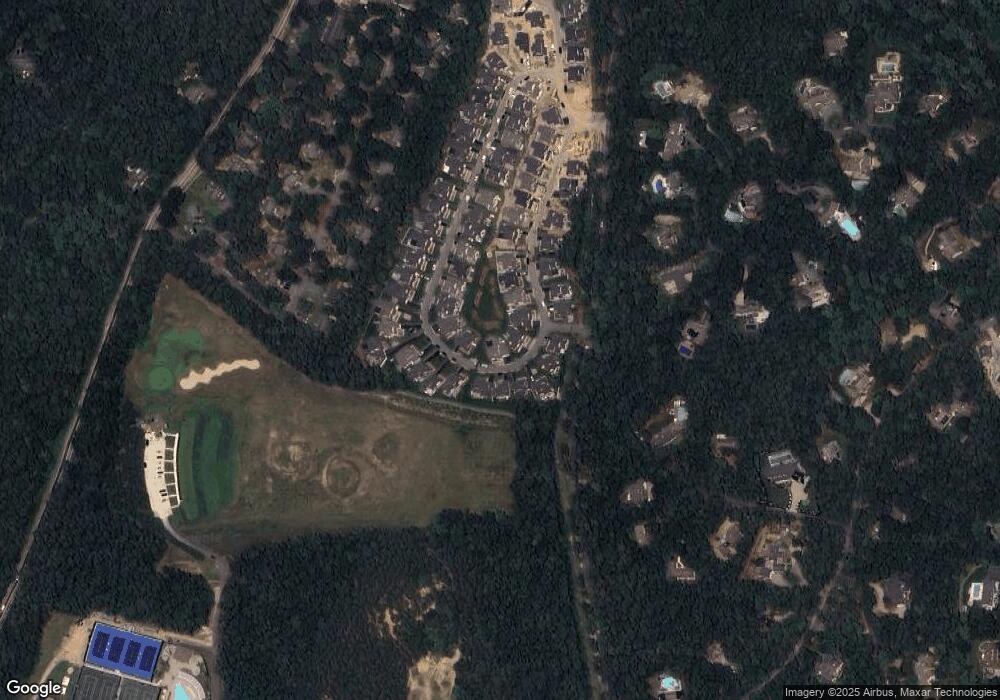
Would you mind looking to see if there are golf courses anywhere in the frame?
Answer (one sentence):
Yes, there's a golf course down there.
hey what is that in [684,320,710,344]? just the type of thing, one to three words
house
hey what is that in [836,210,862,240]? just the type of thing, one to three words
swimming pool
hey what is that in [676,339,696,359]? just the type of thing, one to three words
swimming pool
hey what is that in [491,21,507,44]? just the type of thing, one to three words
house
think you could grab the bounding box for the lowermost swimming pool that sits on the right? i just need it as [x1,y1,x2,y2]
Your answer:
[659,674,681,690]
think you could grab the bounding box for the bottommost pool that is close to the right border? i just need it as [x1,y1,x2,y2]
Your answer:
[970,582,983,601]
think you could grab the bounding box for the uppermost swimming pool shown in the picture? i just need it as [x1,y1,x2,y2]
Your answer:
[877,52,900,73]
